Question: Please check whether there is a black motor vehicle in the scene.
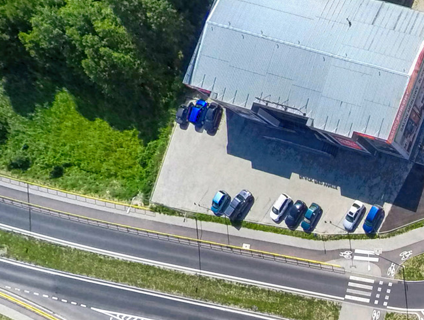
Yes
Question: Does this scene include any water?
No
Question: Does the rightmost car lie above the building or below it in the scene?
below it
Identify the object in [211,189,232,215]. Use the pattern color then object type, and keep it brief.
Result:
blue car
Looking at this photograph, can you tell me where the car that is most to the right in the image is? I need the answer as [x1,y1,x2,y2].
[363,204,384,233]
